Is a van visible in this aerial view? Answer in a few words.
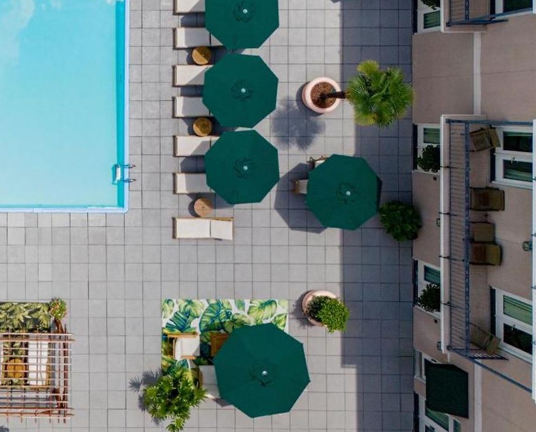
No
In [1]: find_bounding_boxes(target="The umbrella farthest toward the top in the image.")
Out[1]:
[205,0,278,51]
